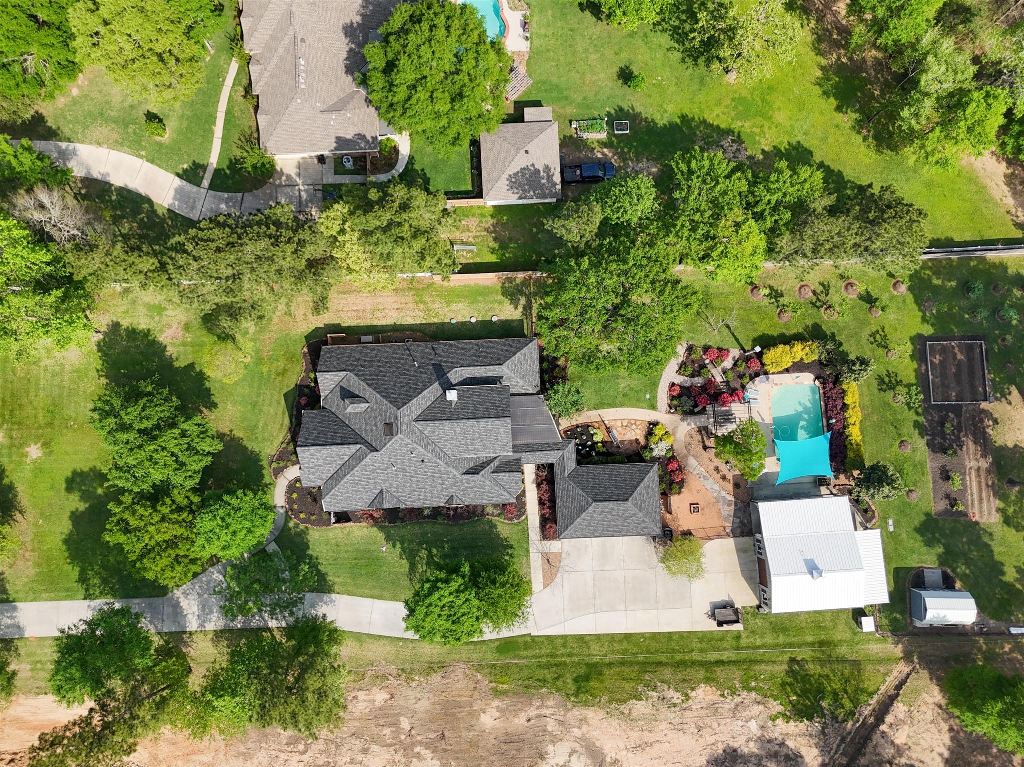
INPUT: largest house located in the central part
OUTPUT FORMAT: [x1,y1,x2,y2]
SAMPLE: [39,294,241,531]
[296,337,539,522]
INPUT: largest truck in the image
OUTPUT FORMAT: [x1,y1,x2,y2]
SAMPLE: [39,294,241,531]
[562,161,616,185]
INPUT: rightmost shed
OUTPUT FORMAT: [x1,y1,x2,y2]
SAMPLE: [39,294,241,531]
[912,569,977,625]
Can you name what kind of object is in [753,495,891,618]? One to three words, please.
barn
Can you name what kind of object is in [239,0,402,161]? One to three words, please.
house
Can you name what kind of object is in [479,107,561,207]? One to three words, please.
building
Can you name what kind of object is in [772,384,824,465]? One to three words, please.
swimming pool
